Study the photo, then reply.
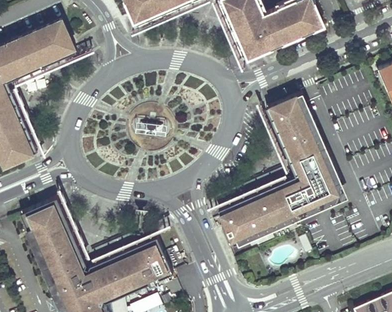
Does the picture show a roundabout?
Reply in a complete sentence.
Yes, I can see a roundabout in this picture.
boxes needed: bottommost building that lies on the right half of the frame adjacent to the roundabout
[206,96,347,249]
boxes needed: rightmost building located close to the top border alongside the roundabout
[212,0,326,74]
